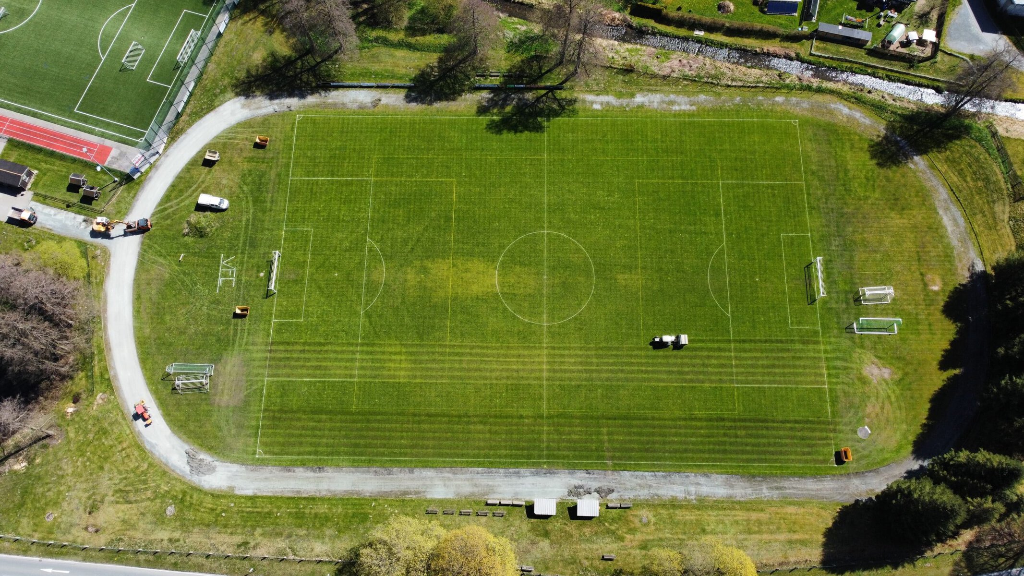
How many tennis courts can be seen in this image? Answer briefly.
0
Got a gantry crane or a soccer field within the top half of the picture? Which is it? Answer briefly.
soccer field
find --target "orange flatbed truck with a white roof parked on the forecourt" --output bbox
[6,208,39,226]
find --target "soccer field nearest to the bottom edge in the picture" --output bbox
[241,111,887,479]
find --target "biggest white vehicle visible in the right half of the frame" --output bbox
[655,334,677,347]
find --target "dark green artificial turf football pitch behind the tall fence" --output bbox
[0,0,223,150]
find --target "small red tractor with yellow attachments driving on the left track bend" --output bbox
[132,402,154,428]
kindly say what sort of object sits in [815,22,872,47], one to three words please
shed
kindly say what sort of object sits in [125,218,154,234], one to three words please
vehicle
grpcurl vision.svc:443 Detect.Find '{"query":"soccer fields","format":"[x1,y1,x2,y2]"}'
[241,111,887,479]
[0,0,223,150]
